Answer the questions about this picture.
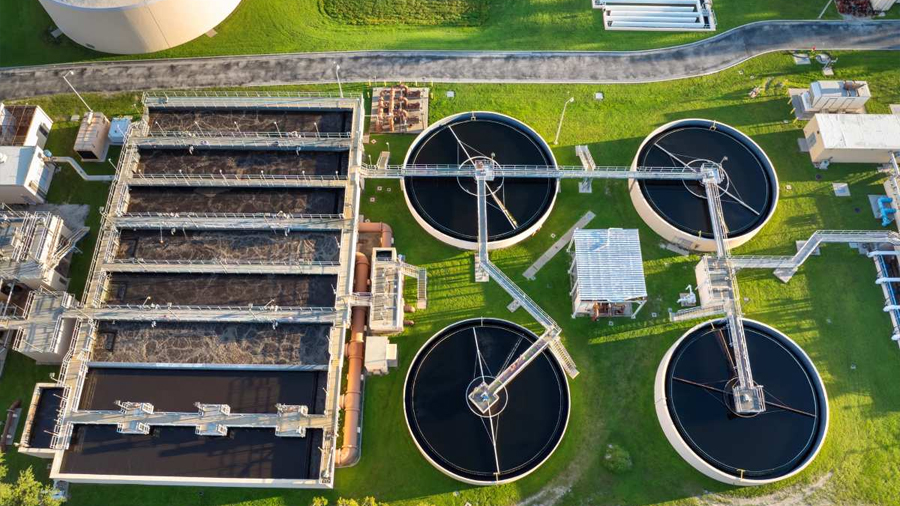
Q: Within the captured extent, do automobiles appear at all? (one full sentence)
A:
No, there appears to be no automobile in this shot.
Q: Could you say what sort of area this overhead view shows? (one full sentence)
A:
This looks like an industrial area.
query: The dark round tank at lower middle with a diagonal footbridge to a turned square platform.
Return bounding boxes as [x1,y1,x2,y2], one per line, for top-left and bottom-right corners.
[403,316,580,485]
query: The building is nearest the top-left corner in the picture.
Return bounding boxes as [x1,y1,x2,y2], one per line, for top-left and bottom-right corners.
[0,104,54,141]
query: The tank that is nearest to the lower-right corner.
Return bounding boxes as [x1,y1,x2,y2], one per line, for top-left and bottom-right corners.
[654,305,830,485]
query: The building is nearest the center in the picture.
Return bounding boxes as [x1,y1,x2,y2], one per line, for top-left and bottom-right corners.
[347,248,427,336]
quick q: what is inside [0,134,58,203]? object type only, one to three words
building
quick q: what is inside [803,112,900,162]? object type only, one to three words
building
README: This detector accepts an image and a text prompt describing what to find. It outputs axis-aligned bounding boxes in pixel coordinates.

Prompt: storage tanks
[628,118,780,252]
[654,305,830,485]
[403,110,558,249]
[592,0,717,29]
[403,316,580,485]
[39,0,243,54]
